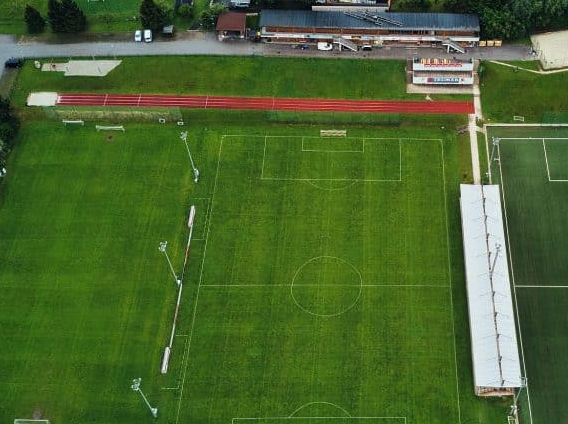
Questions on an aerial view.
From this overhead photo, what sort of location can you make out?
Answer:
sports ground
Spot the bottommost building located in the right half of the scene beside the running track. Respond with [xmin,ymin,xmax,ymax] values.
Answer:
[257,10,481,53]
